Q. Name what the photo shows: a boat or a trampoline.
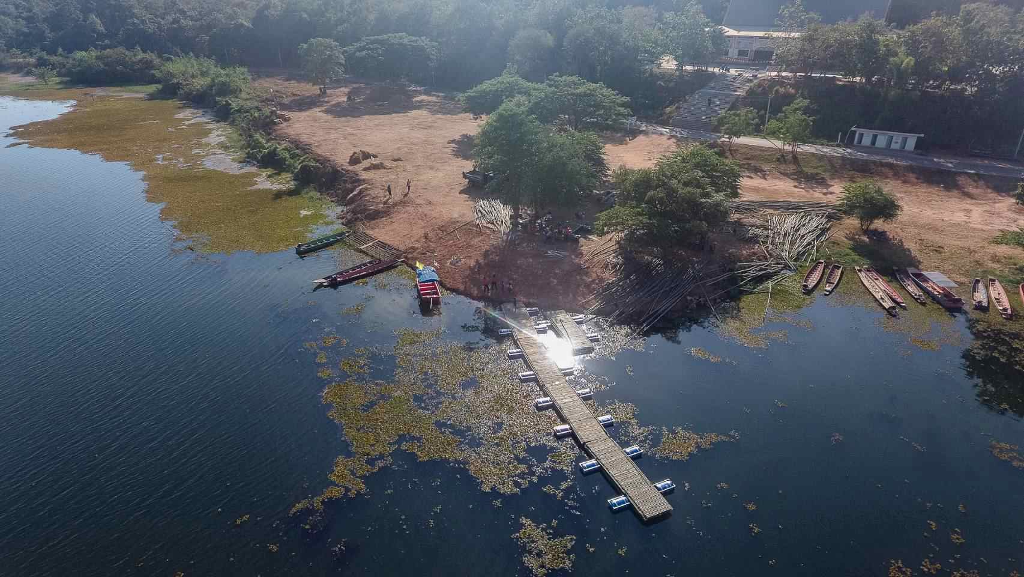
boat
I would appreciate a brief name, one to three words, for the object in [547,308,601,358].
pier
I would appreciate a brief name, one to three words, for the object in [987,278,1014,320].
boat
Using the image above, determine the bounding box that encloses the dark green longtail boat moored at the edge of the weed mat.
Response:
[289,231,349,255]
